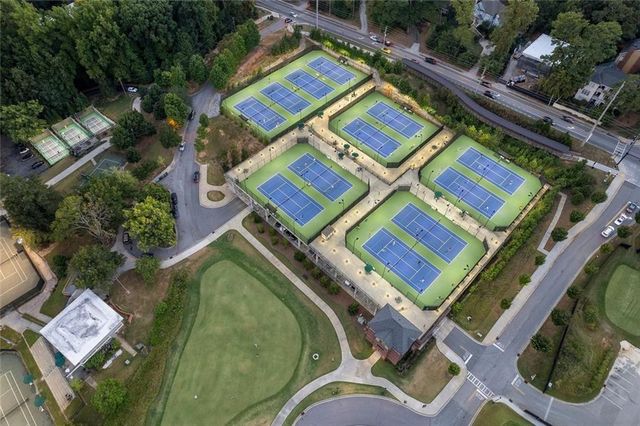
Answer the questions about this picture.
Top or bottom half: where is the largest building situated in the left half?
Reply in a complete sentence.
You can find the largest building situated in the left half in the bottom half.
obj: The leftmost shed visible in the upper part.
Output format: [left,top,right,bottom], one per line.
[70,136,103,159]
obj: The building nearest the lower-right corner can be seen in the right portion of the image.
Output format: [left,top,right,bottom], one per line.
[367,299,429,360]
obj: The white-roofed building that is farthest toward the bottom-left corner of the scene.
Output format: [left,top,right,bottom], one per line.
[41,292,131,371]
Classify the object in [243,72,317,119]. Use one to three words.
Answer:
tennis court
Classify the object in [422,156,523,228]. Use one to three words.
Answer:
tennis court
